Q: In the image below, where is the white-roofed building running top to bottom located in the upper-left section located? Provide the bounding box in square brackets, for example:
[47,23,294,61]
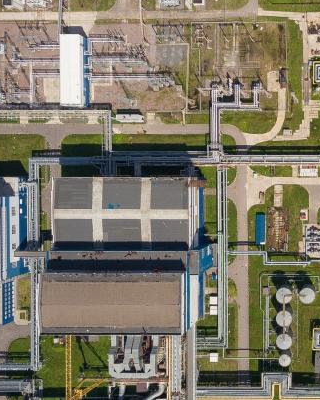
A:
[60,34,91,108]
